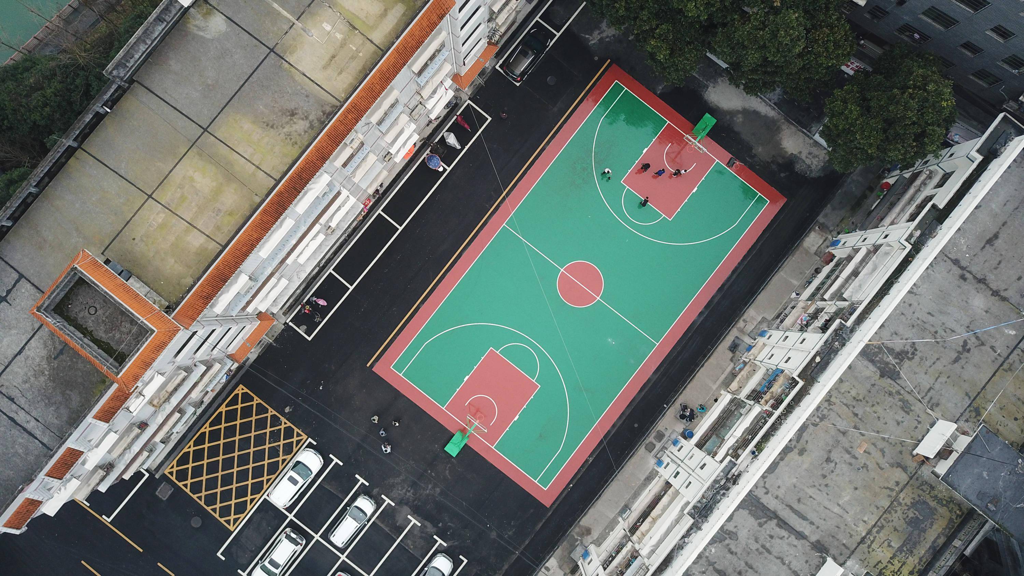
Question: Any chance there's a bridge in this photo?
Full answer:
No, I find no bridge anywhere in the image.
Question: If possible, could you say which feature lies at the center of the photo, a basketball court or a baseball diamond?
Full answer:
You can see a basketball court at the center of the photo.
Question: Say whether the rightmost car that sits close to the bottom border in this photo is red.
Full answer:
No, from above the rightmost car that sits close to the bottom border looks white.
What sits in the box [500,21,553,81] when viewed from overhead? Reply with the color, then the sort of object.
black car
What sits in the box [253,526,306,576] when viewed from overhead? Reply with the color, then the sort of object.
white car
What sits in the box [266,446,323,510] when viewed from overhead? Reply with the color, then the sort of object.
white car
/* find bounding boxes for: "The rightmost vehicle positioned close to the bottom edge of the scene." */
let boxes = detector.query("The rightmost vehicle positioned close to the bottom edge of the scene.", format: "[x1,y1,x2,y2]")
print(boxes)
[418,553,452,576]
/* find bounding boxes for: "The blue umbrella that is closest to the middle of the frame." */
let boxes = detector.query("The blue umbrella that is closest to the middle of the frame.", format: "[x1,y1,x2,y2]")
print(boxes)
[425,153,442,170]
